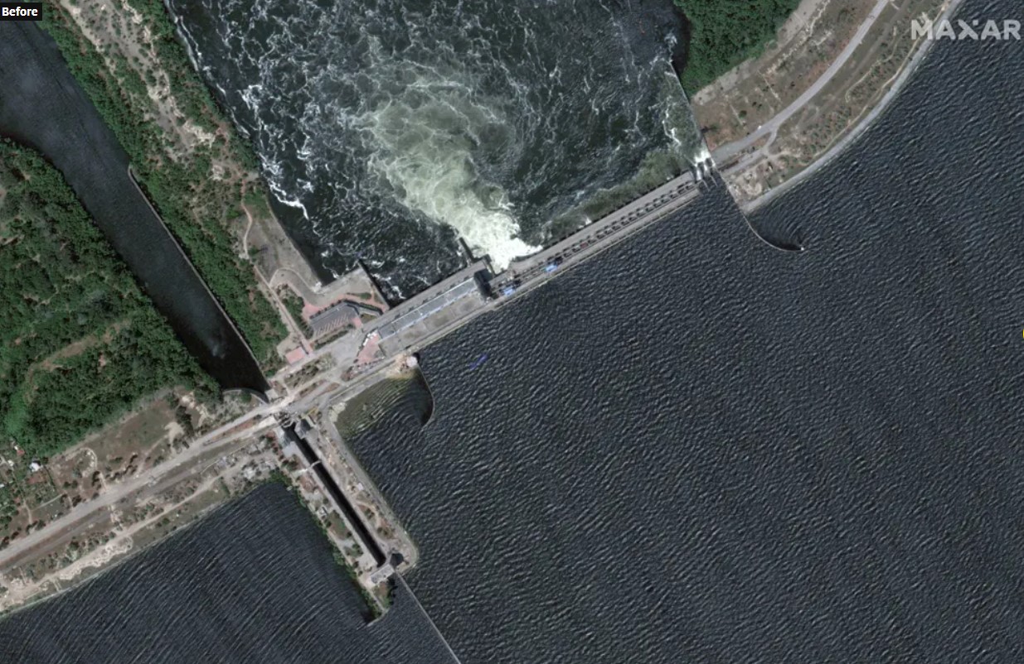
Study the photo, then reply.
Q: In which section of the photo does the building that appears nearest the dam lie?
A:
center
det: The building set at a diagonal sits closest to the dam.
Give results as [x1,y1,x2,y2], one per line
[378,257,509,366]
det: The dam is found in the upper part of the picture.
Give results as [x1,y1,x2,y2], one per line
[490,170,702,312]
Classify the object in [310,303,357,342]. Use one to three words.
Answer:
building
